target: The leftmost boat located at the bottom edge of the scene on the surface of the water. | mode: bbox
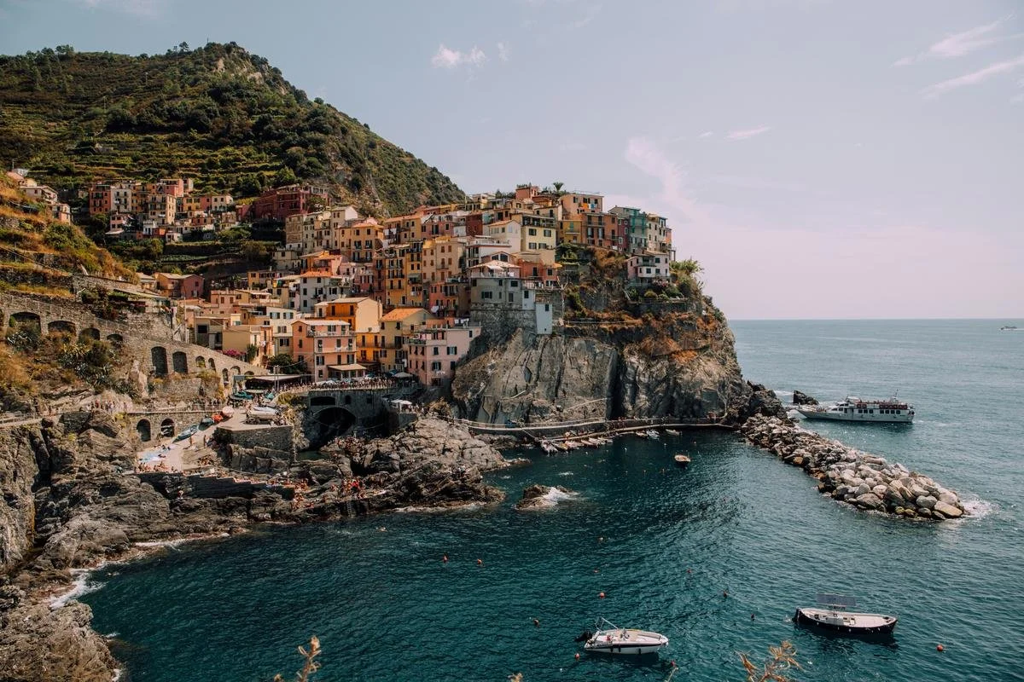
[566,616,683,658]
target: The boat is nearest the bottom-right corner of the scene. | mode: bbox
[796,585,915,639]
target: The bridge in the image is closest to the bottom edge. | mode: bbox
[287,383,424,447]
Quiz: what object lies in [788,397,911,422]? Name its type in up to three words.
ship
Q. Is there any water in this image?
Yes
